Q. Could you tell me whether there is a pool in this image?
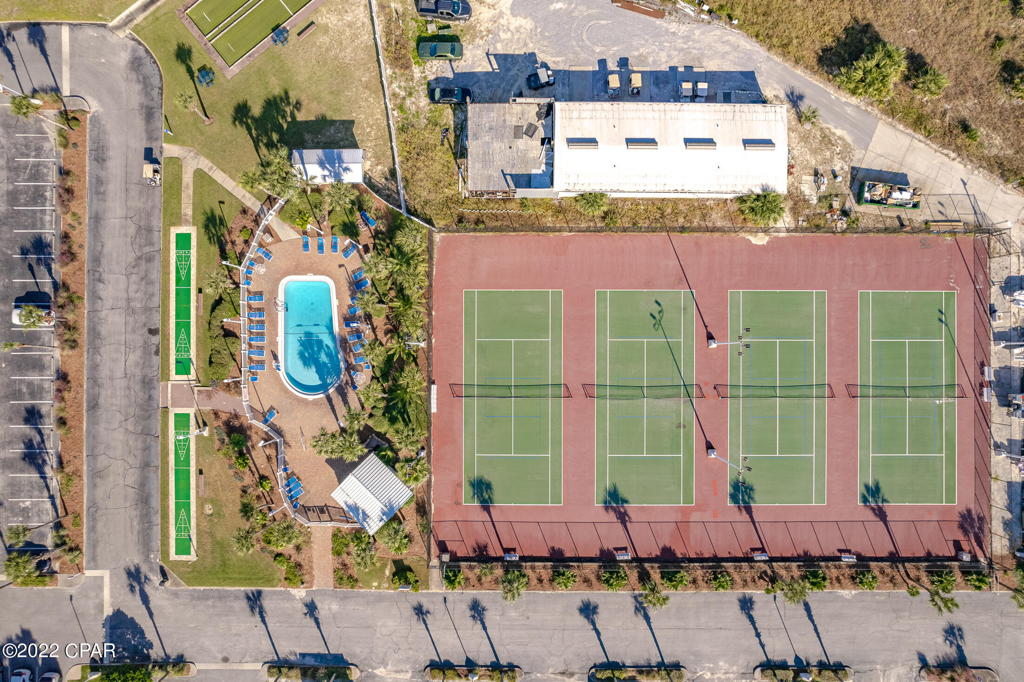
Yes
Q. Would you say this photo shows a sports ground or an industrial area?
sports ground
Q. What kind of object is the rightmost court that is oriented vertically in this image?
tennis court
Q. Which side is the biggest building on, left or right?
right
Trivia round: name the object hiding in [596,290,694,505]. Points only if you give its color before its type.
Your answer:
green tennis court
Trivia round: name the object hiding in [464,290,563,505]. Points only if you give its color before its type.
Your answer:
green tennis court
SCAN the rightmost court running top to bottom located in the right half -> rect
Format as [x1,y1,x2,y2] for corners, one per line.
[859,291,956,504]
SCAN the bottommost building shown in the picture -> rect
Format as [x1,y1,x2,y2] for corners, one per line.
[331,452,413,535]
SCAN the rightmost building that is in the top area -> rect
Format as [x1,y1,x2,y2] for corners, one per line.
[553,101,791,197]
